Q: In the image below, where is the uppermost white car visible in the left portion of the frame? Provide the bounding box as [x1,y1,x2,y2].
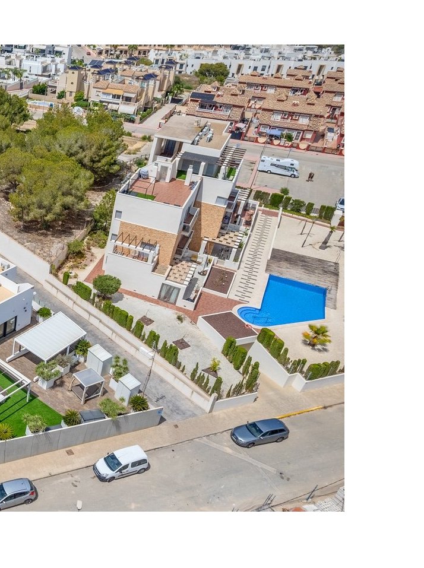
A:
[95,443,154,480]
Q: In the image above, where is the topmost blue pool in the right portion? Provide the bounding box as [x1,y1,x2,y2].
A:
[237,274,327,326]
